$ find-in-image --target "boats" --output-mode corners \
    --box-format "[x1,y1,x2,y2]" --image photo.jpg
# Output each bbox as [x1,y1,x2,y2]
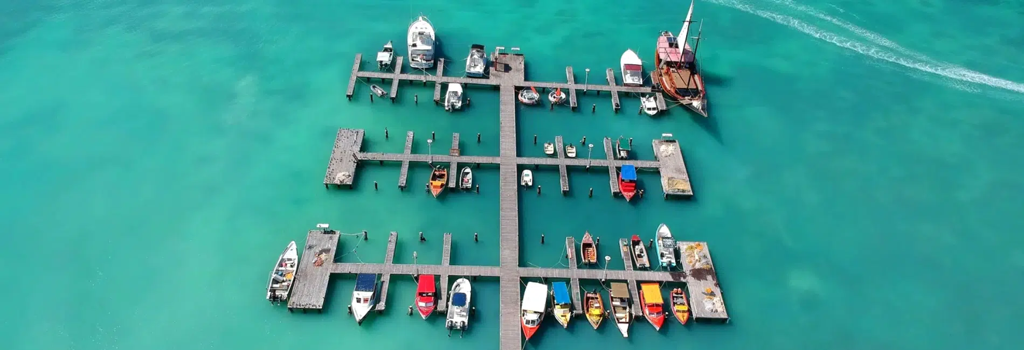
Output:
[619,46,643,90]
[653,223,677,272]
[465,44,487,78]
[631,235,650,271]
[428,165,447,200]
[405,9,437,70]
[370,86,388,98]
[264,240,297,308]
[444,83,464,115]
[610,281,635,338]
[551,282,573,329]
[616,133,630,160]
[521,169,533,192]
[460,166,473,192]
[583,288,605,330]
[639,281,664,332]
[415,274,437,320]
[544,140,554,156]
[566,143,577,159]
[641,94,659,118]
[447,275,473,338]
[579,231,596,269]
[519,87,541,107]
[376,40,394,70]
[553,88,570,108]
[519,279,551,341]
[668,287,689,327]
[618,161,639,204]
[352,271,379,326]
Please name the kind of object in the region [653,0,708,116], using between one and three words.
ship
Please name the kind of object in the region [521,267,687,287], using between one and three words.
pier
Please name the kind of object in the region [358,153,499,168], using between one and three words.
pier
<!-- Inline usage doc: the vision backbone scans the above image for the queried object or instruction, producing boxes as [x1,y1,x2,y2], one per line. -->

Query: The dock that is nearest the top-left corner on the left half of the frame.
[346,54,362,99]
